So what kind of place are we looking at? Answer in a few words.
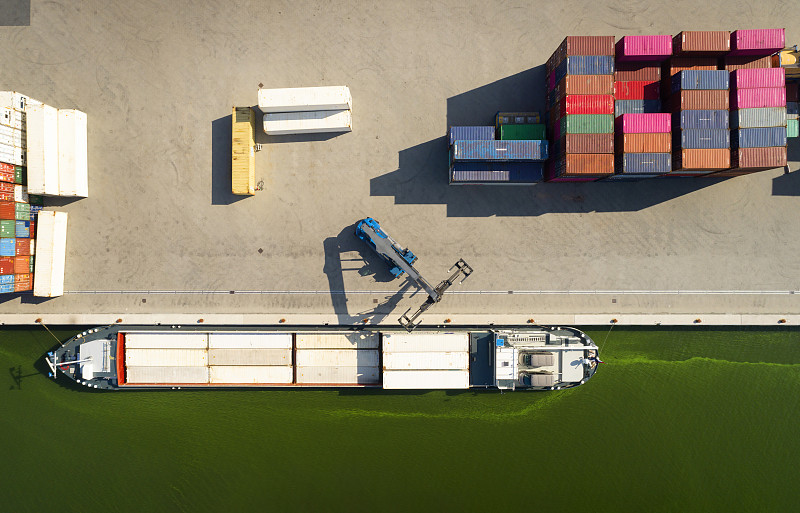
port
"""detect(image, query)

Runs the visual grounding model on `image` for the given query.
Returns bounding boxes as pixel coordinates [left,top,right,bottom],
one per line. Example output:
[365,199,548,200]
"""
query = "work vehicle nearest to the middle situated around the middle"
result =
[354,216,475,334]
